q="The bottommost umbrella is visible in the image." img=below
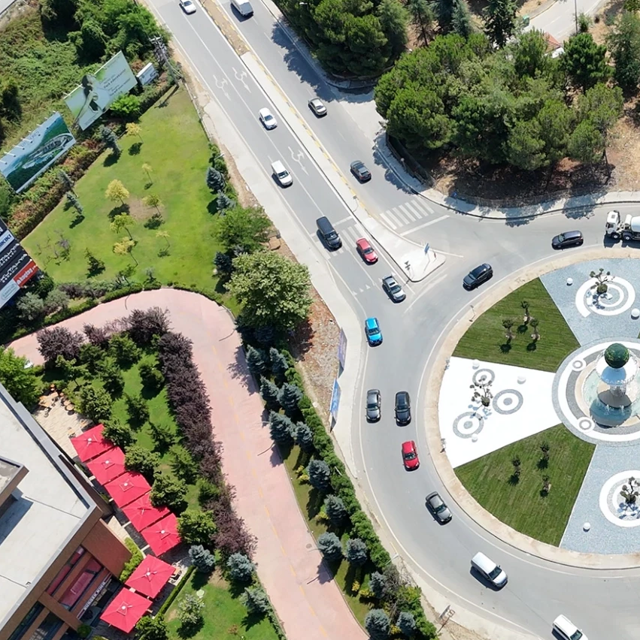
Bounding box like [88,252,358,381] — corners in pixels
[100,586,152,633]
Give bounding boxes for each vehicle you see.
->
[364,316,383,349]
[180,0,195,12]
[400,438,421,473]
[466,547,512,592]
[462,262,495,290]
[354,237,378,265]
[258,107,278,130]
[393,390,412,427]
[315,215,343,249]
[421,489,456,528]
[308,98,328,118]
[233,0,252,17]
[551,230,584,250]
[379,274,407,303]
[364,389,382,425]
[351,162,371,184]
[270,159,293,187]
[548,613,590,640]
